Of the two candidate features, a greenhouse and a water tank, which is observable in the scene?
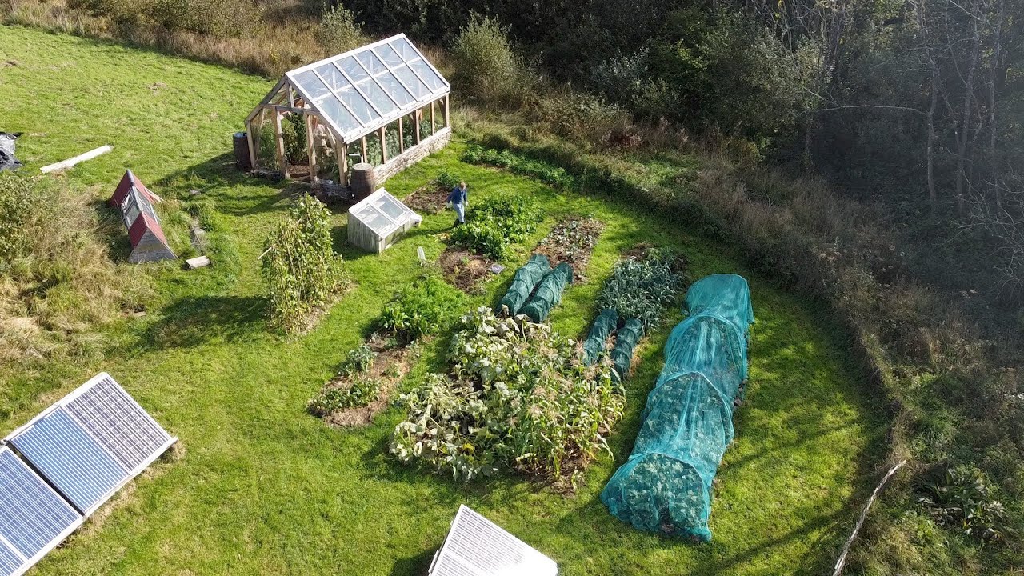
greenhouse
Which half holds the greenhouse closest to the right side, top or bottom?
top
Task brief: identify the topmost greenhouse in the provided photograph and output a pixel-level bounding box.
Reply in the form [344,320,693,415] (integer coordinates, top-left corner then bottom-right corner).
[239,33,458,190]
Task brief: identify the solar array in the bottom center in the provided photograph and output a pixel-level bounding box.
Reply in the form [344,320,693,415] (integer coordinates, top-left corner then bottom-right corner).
[426,504,557,576]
